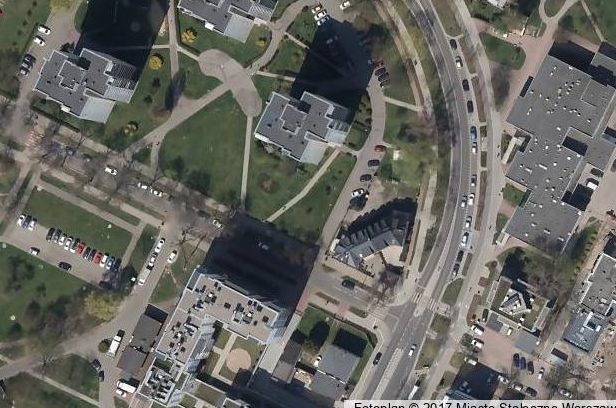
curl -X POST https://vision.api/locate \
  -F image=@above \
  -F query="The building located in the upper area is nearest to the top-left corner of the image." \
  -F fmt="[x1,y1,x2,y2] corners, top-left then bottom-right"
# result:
[34,48,141,119]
